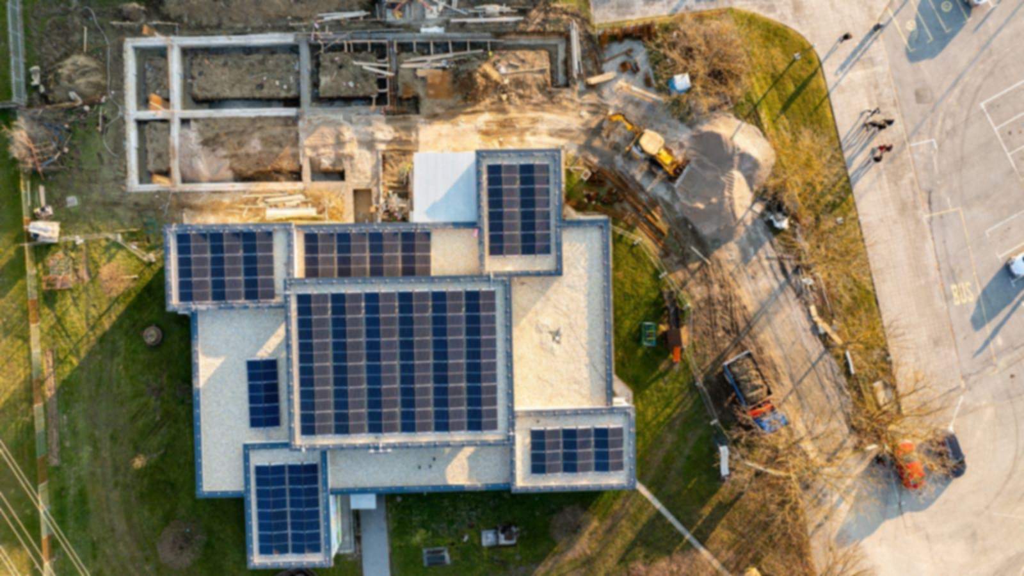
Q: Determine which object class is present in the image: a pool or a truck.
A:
truck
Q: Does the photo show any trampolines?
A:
No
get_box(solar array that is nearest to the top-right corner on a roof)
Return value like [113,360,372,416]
[488,162,551,258]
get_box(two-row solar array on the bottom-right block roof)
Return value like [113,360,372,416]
[531,425,623,475]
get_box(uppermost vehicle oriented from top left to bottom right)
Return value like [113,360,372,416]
[596,121,683,191]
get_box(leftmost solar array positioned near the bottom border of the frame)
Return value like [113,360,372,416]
[256,462,322,556]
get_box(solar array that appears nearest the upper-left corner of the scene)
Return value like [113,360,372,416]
[178,230,276,303]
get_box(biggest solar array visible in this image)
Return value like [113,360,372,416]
[298,288,499,437]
